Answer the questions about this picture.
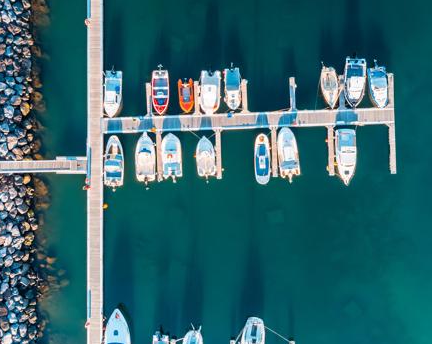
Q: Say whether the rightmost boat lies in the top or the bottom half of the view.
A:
top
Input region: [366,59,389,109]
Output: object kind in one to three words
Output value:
boat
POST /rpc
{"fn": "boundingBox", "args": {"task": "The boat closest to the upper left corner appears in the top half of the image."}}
[102,60,122,118]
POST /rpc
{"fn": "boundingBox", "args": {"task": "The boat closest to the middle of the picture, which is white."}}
[192,135,216,185]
